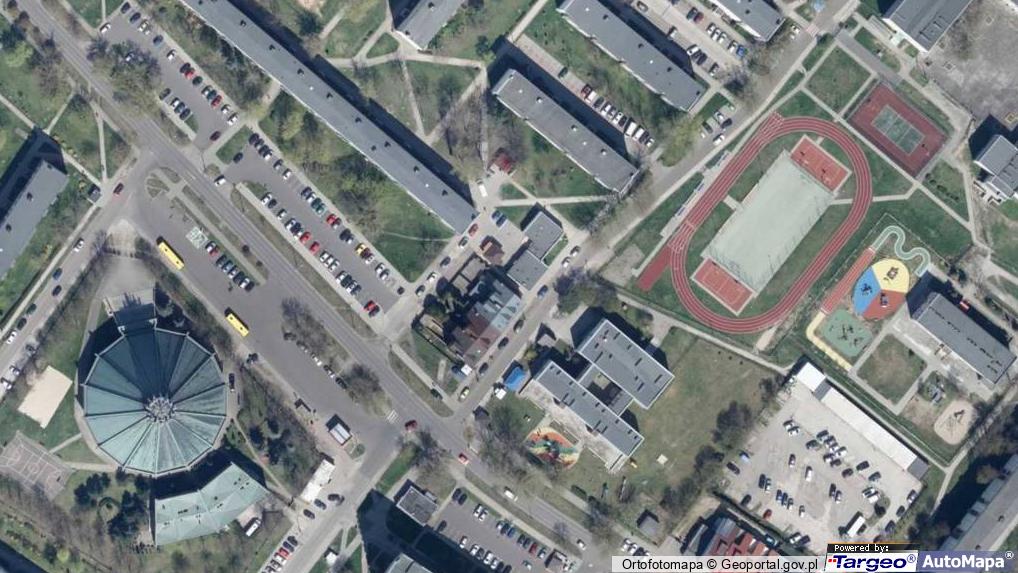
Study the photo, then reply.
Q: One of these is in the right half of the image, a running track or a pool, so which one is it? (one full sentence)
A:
What appears in the right half of the image is a running track.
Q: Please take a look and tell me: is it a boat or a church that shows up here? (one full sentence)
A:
This aerial view contains a church.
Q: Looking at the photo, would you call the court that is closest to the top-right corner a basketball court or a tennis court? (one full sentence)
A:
The court that is closest to the top-right corner appears to be a tennis court.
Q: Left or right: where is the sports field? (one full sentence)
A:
It is on the right.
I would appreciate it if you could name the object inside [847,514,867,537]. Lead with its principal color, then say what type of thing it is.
white vehicle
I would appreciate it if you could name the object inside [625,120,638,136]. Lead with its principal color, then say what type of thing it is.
white vehicle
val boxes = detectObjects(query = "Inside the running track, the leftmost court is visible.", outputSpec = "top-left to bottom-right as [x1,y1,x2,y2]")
[690,255,756,315]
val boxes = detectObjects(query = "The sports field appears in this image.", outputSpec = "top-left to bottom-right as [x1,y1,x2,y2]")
[703,150,833,297]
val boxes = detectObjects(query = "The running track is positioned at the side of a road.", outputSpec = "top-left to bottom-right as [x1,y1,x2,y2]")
[636,110,873,334]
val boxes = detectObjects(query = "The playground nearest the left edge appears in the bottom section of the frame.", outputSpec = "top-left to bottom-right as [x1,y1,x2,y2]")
[523,424,583,473]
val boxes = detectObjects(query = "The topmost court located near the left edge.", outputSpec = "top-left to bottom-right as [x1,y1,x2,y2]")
[18,366,73,429]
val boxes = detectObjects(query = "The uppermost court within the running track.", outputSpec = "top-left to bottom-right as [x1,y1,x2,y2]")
[787,134,853,194]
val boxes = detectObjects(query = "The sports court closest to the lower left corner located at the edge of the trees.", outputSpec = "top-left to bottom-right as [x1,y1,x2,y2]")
[0,433,72,500]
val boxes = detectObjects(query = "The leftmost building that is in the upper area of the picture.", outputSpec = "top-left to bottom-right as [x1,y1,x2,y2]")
[0,159,72,284]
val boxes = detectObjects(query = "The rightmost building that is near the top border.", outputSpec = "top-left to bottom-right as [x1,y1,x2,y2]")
[886,0,969,53]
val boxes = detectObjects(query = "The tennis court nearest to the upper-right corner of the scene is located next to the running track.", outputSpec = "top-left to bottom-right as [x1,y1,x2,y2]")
[848,82,948,178]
